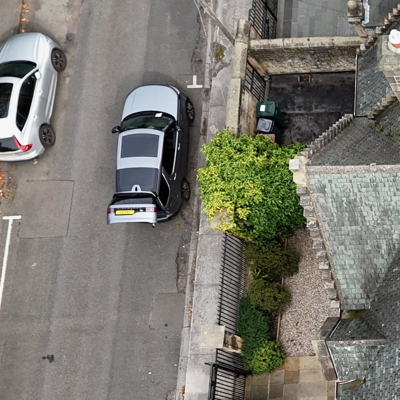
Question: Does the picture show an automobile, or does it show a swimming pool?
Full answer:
This aerial view contains an automobile.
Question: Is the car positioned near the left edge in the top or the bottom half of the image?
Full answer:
It is in the top half that the car positioned near the left edge appears.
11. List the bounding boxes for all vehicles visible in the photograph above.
[99,85,198,233]
[0,33,66,164]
